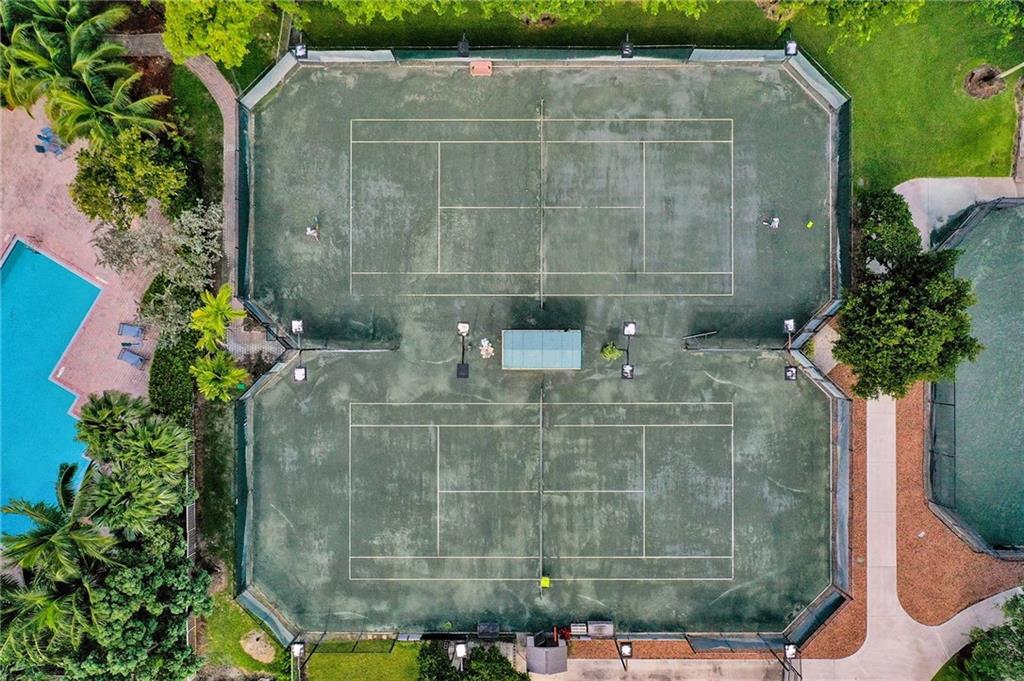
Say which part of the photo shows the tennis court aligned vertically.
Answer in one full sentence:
The tennis court aligned vertically is in the right part of the image.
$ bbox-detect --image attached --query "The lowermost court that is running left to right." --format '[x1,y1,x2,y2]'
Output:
[251,349,830,633]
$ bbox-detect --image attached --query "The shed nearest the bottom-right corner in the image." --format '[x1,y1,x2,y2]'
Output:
[527,627,567,676]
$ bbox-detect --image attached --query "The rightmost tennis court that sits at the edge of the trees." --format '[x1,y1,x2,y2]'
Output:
[931,201,1024,549]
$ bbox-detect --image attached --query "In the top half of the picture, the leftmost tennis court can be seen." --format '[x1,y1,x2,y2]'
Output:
[253,65,830,349]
